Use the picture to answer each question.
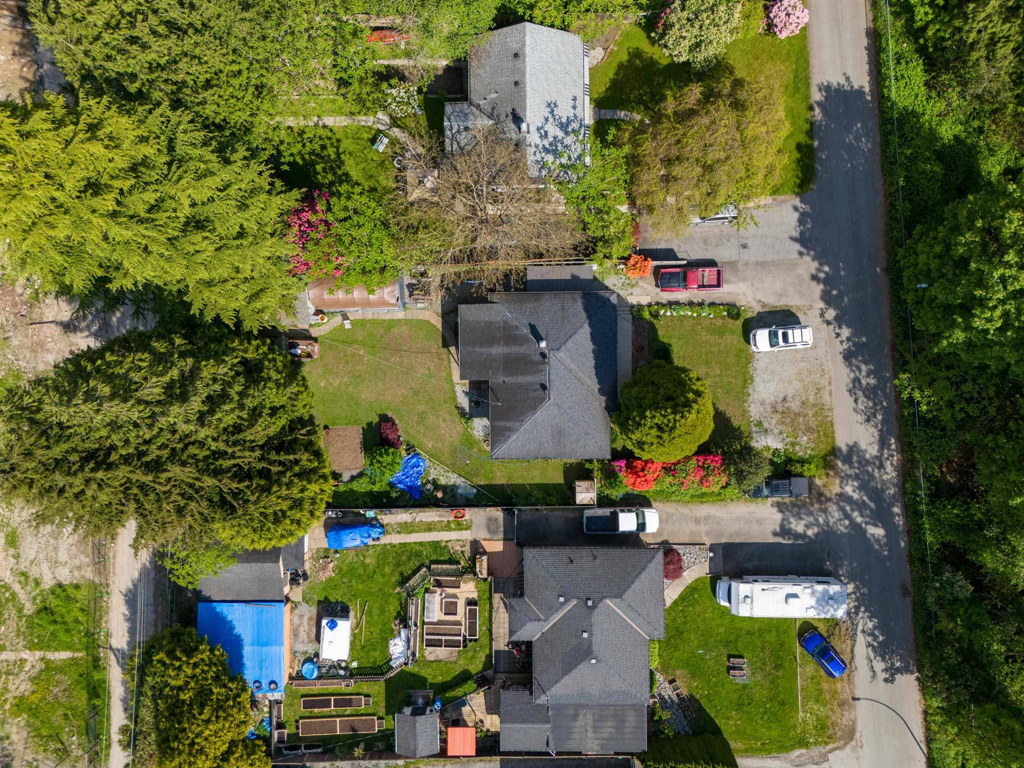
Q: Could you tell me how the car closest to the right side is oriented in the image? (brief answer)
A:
at an angle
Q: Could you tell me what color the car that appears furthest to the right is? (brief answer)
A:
blue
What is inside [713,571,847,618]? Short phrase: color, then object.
white camper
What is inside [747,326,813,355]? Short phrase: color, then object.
white car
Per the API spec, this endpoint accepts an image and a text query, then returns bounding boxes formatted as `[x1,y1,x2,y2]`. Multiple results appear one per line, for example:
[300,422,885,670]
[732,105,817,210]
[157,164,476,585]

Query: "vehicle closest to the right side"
[797,626,848,681]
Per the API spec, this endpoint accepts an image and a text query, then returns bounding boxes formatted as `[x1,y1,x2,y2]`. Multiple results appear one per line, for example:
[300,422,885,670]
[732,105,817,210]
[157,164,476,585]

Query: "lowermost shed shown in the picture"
[395,705,439,757]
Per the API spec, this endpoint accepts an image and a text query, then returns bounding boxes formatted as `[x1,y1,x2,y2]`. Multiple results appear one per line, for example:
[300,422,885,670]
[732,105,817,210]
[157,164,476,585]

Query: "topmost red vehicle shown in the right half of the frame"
[659,264,728,292]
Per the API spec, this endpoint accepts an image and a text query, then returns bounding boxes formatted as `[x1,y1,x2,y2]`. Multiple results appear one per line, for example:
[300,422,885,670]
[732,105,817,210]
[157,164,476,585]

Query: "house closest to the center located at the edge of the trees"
[457,290,618,462]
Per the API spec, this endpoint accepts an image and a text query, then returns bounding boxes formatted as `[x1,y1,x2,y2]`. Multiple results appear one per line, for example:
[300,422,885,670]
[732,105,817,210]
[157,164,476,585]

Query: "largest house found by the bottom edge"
[499,546,667,756]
